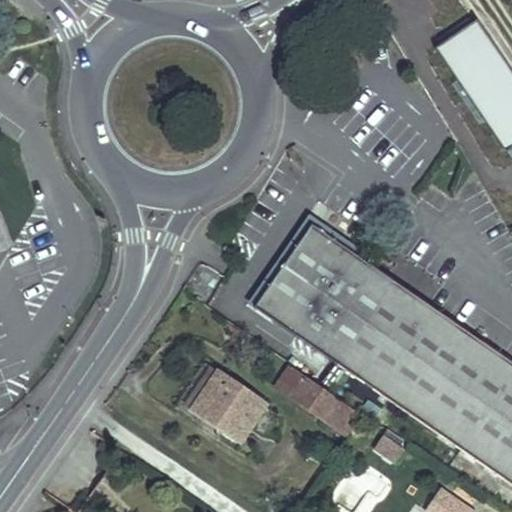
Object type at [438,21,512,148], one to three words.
building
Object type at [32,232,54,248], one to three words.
vehicle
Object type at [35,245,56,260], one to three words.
car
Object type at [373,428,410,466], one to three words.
house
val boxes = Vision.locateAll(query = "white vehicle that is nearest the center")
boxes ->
[266,186,286,202]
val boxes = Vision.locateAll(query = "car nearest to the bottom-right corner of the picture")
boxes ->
[476,322,492,340]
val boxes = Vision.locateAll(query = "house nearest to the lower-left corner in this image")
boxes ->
[179,366,270,448]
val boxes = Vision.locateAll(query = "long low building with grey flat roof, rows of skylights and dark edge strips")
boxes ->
[250,215,512,485]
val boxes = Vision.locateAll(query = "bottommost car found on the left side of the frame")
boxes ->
[23,284,45,299]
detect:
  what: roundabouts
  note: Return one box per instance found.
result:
[70,2,276,208]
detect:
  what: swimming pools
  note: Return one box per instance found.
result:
[332,466,391,512]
